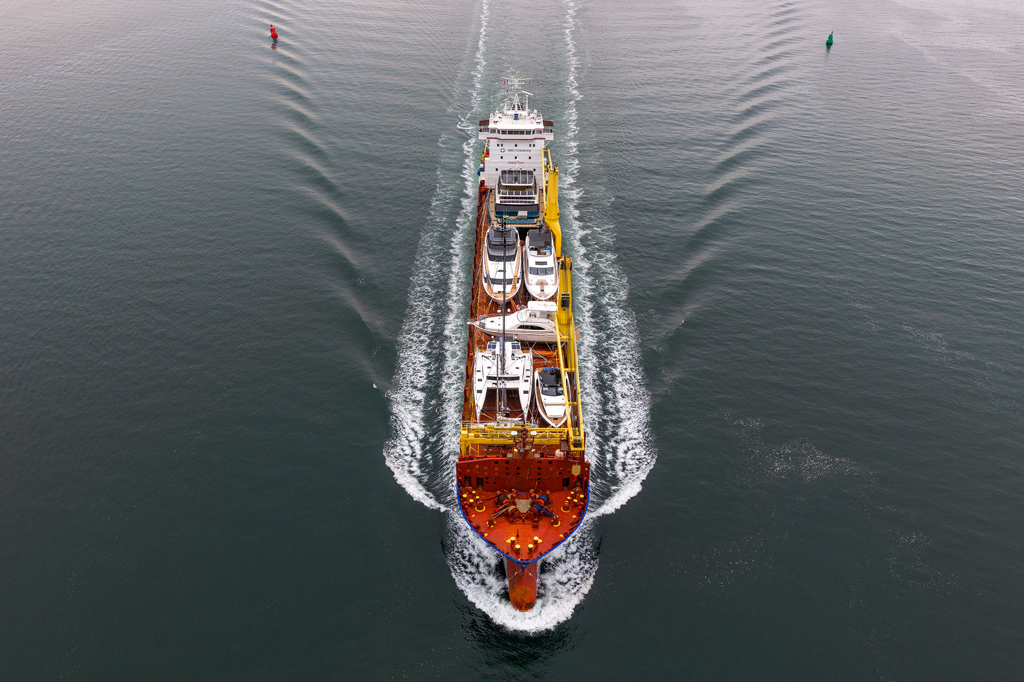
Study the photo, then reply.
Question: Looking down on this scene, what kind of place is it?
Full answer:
This image shows a port.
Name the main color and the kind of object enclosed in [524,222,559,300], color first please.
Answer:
white boat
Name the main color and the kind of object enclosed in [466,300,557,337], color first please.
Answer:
white boat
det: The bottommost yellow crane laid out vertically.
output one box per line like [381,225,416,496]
[553,258,585,496]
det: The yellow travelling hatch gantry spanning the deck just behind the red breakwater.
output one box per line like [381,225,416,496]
[459,421,583,463]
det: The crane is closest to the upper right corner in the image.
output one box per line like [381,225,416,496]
[542,149,563,261]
